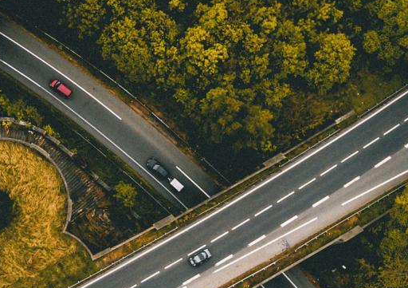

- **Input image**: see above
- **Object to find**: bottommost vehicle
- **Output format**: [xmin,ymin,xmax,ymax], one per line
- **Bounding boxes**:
[188,247,214,267]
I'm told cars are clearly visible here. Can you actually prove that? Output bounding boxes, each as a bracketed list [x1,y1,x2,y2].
[188,247,214,267]
[48,78,74,98]
[146,157,172,181]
